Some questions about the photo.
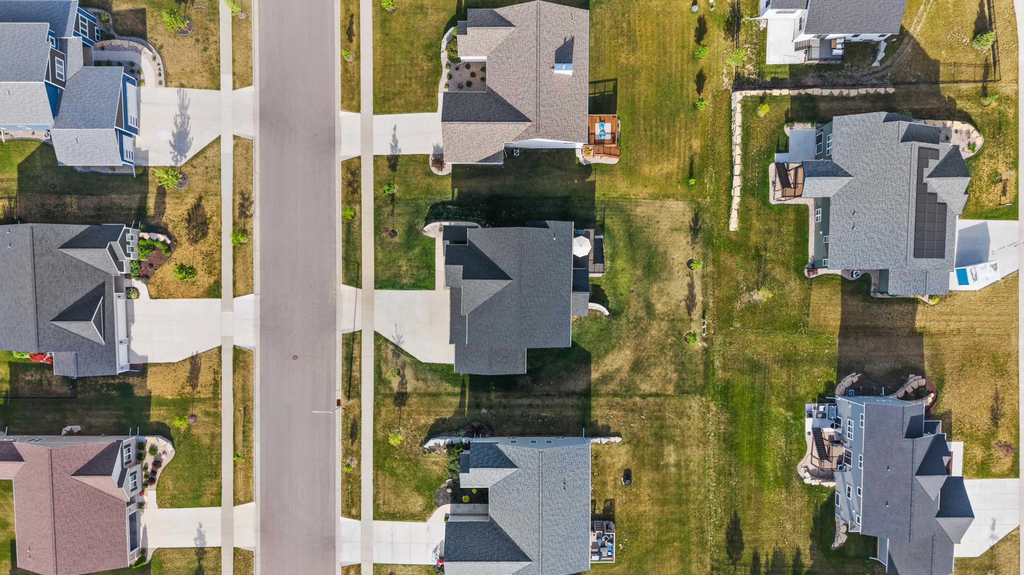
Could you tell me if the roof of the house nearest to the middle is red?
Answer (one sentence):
No, the color of the roof of the house nearest to the middle is gray.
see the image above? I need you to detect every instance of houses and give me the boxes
[0,0,142,176]
[0,427,143,575]
[824,386,974,575]
[751,0,907,43]
[442,0,590,171]
[443,429,591,575]
[0,220,150,377]
[442,220,590,375]
[803,111,972,294]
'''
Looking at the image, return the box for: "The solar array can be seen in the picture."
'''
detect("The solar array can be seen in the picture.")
[915,148,945,259]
